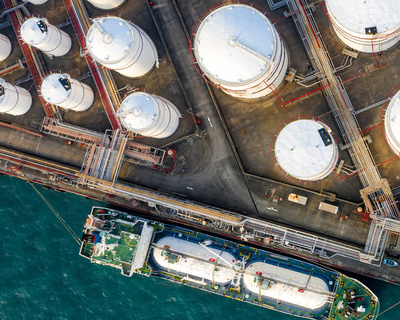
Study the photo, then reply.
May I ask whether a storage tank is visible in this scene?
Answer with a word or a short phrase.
Yes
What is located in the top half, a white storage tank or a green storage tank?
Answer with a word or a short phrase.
white storage tank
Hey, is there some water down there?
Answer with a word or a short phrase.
Yes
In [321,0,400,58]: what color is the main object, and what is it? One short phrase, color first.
white storage tank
